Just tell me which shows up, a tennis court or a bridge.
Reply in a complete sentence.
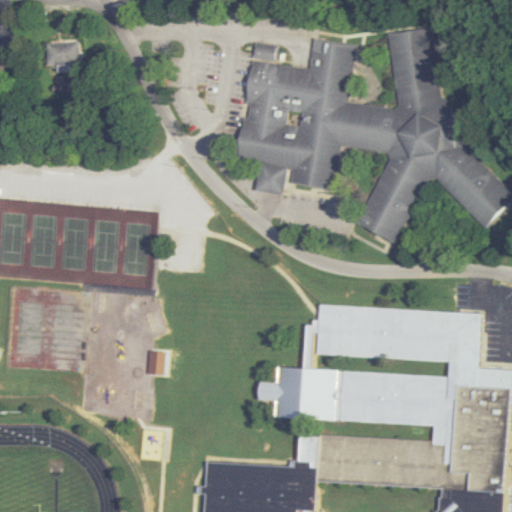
I can see a tennis court in this picture.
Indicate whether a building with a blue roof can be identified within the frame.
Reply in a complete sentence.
No, there's no building with a blue roof here.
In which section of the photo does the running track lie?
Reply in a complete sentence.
The running track is in the bottom left part of the image.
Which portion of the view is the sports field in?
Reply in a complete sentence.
You can find the sports field in the bottom left area of the picture.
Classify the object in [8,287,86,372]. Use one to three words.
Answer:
sports court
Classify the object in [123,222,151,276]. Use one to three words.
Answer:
tennis court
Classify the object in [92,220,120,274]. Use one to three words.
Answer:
tennis court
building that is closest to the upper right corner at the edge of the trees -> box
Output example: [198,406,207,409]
[240,30,510,244]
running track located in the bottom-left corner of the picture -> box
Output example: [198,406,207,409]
[0,425,121,512]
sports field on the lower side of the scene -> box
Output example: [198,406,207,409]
[0,446,100,512]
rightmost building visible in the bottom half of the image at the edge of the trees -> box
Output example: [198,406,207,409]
[196,304,512,512]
